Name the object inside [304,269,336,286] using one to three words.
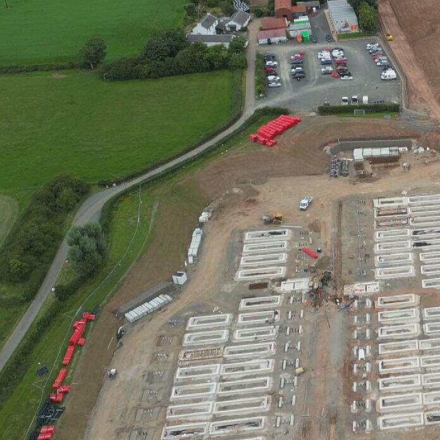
work vehicle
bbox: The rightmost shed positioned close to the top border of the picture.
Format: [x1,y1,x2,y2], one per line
[327,0,358,32]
